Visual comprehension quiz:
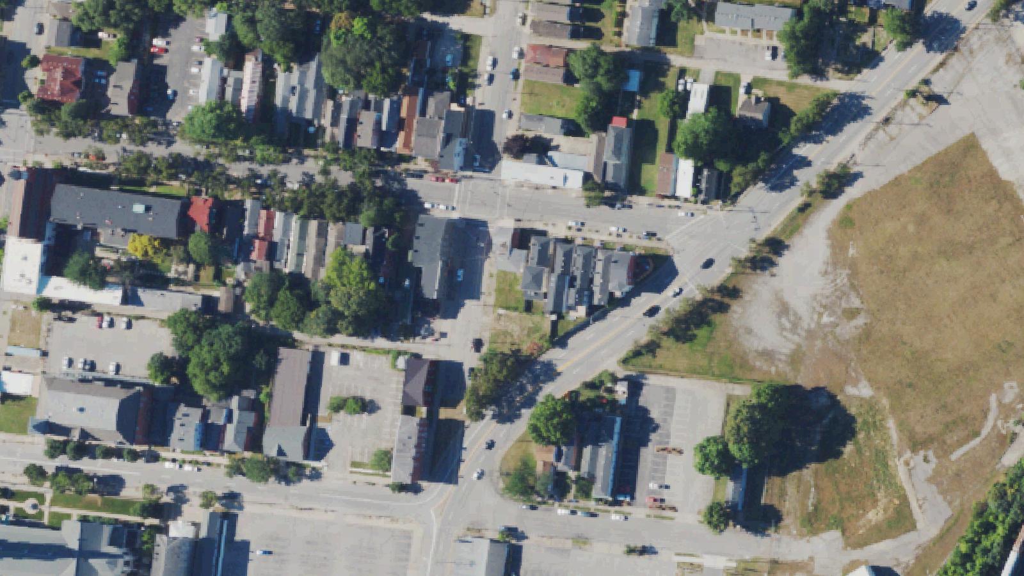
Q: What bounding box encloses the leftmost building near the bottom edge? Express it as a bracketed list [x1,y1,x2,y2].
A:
[0,518,134,576]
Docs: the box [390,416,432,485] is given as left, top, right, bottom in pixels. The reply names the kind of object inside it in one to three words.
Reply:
building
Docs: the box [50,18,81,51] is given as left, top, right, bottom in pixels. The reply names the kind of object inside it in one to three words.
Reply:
house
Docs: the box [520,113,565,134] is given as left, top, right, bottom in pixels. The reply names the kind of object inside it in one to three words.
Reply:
building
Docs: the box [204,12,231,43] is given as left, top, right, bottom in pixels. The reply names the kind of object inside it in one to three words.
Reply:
shed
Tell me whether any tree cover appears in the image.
Yes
